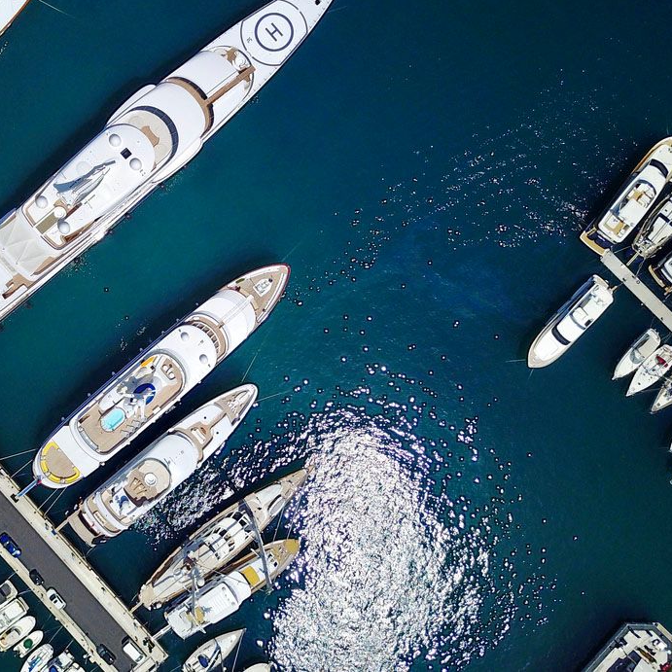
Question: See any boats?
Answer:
Yes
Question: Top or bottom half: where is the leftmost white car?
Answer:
bottom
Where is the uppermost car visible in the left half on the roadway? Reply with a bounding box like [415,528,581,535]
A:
[0,534,21,556]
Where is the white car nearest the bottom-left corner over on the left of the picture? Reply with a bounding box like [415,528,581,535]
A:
[47,588,67,609]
